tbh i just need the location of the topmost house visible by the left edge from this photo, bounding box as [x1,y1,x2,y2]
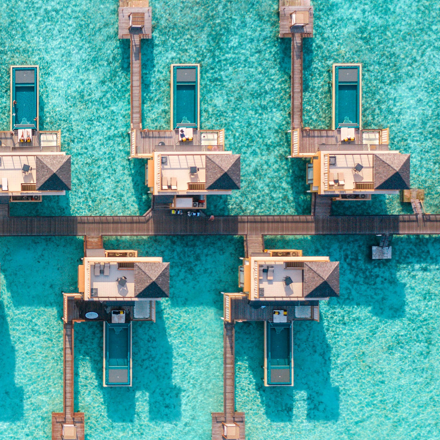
[0,128,71,205]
